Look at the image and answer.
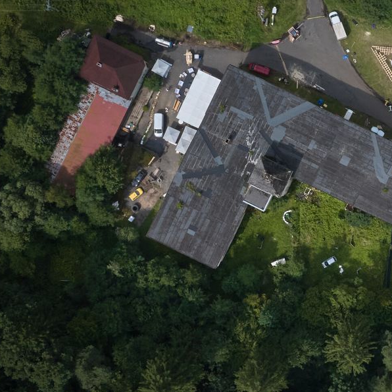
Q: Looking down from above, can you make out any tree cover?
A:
Yes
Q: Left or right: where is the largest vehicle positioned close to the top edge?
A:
right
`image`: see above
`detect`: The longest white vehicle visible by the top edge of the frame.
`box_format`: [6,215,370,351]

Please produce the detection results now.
[327,11,347,43]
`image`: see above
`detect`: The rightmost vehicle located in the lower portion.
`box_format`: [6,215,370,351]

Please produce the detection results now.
[321,254,337,268]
